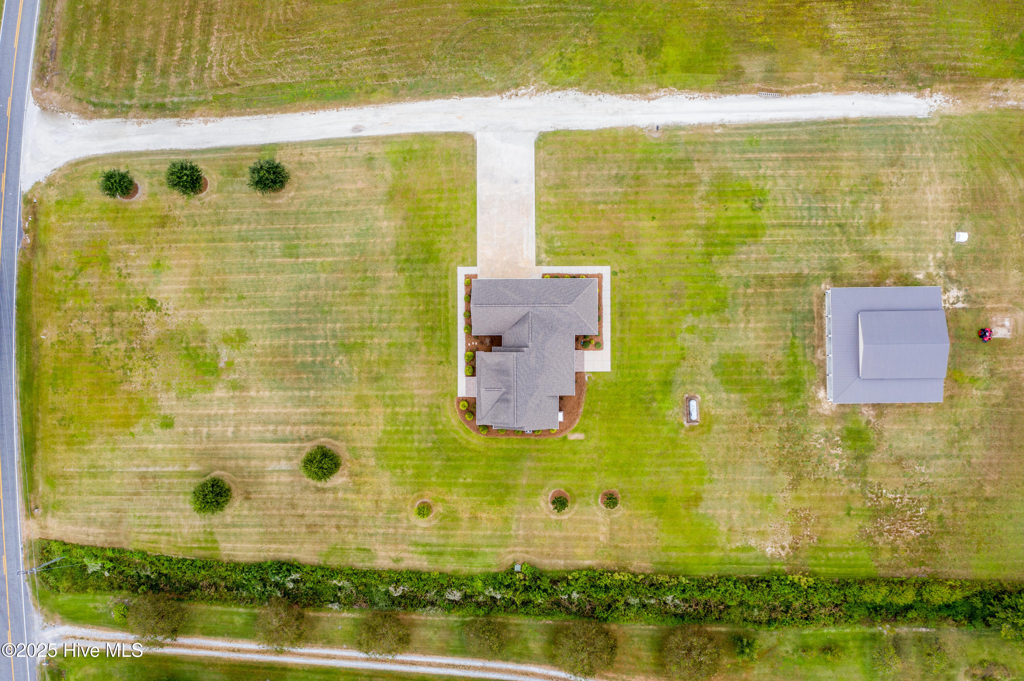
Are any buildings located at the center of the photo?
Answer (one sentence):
Yes, at the center of the photo there is a building.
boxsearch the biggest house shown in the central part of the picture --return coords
[470,278,598,431]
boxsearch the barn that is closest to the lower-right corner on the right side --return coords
[824,286,950,404]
